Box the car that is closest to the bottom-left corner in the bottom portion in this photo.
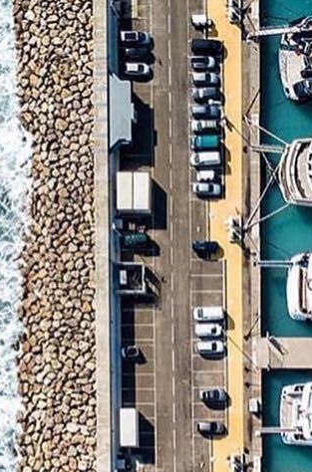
[123,344,142,357]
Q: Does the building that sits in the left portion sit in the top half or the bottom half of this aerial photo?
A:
top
